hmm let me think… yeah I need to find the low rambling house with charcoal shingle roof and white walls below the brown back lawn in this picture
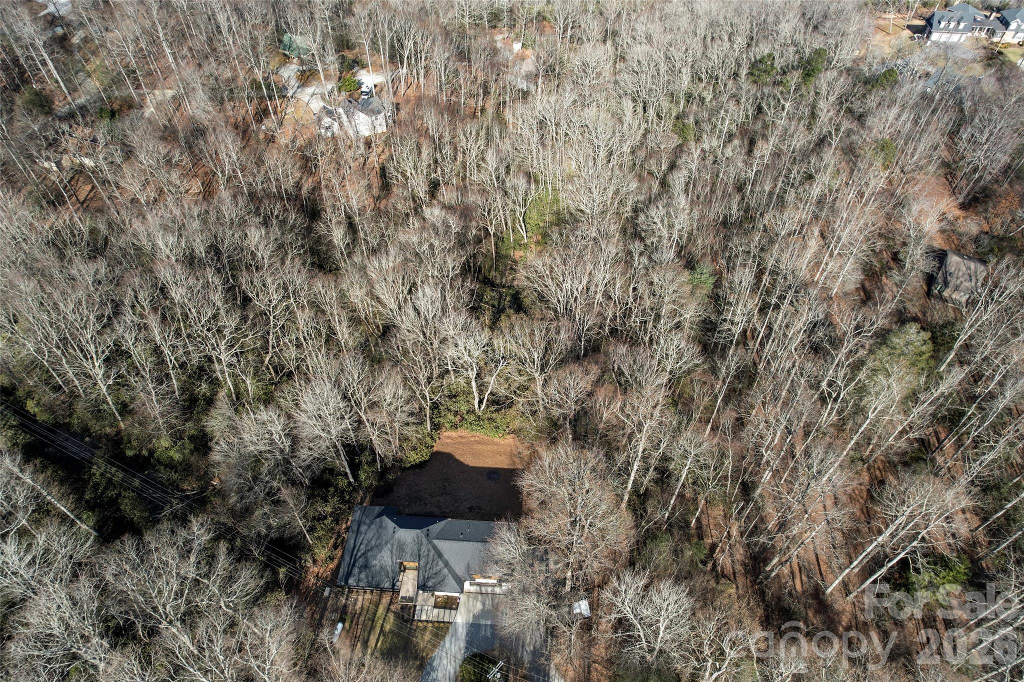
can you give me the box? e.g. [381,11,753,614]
[337,505,521,598]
